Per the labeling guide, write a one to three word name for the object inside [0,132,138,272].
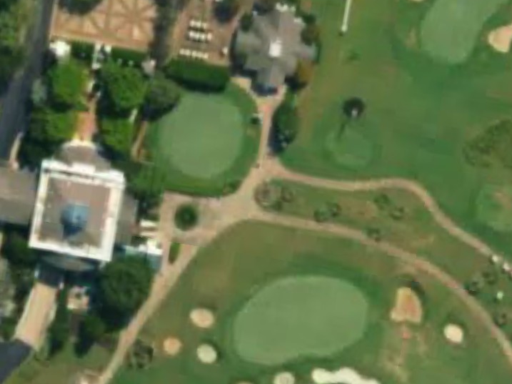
building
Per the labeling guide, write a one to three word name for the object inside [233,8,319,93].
building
